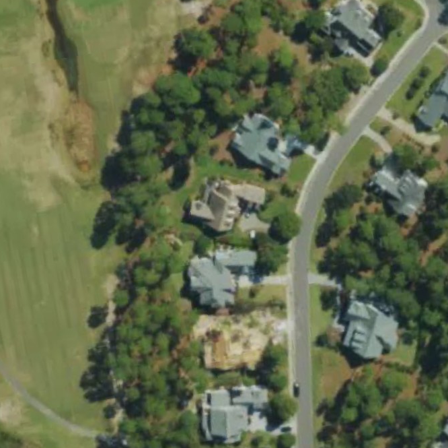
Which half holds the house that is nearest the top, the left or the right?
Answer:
right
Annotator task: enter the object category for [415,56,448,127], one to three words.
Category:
house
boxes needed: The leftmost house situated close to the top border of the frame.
[323,0,388,60]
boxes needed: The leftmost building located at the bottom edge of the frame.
[202,384,269,443]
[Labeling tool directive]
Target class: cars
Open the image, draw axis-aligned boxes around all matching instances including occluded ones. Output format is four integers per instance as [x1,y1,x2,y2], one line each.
[293,383,299,395]
[280,426,292,432]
